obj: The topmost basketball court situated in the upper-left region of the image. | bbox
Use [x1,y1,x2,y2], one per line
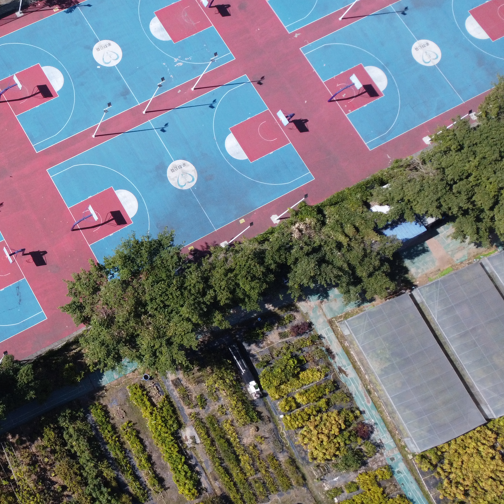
[0,0,235,153]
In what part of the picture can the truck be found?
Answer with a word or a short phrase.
bottom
